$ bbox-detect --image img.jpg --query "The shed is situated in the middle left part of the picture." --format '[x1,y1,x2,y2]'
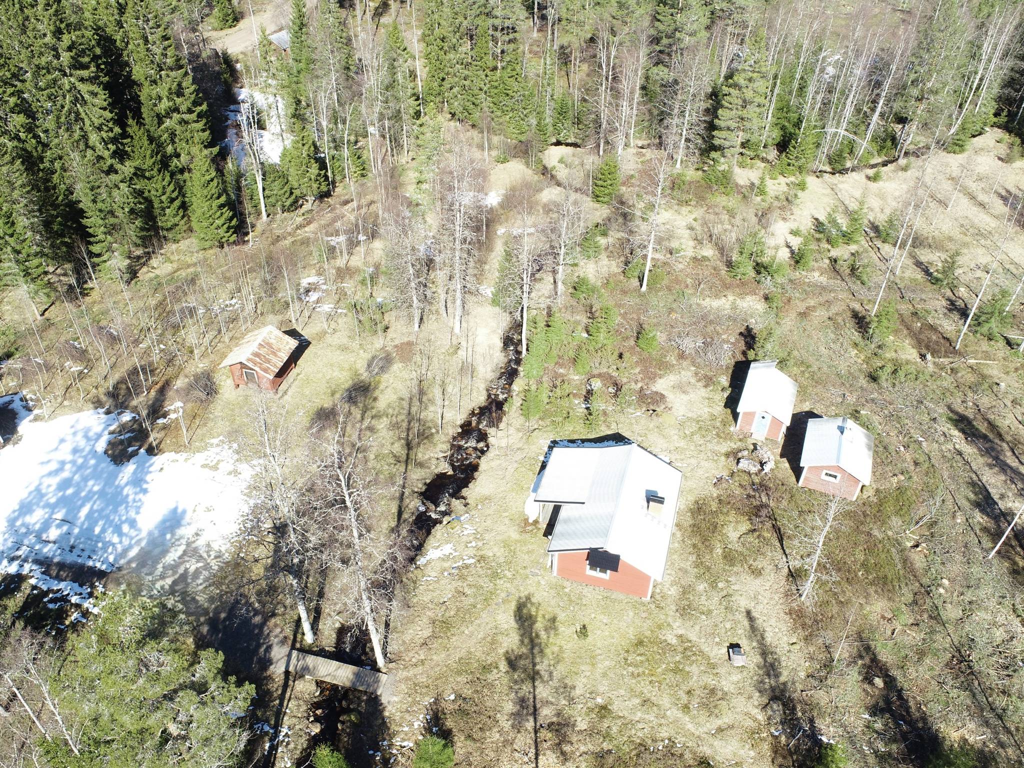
[216,324,299,395]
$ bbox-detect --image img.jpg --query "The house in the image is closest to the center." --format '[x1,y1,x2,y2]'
[533,442,683,598]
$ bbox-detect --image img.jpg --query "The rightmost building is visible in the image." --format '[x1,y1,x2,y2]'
[798,416,874,501]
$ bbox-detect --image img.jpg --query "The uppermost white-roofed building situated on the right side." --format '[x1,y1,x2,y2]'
[736,362,800,443]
